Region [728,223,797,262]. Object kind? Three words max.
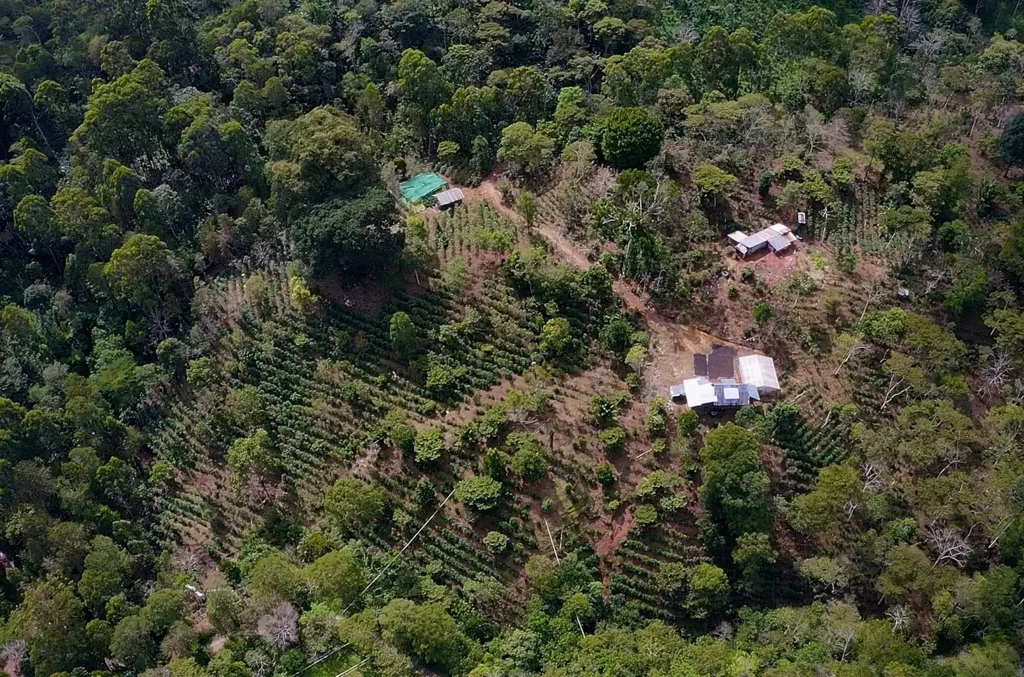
house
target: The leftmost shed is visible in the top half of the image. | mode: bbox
[433,187,465,214]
